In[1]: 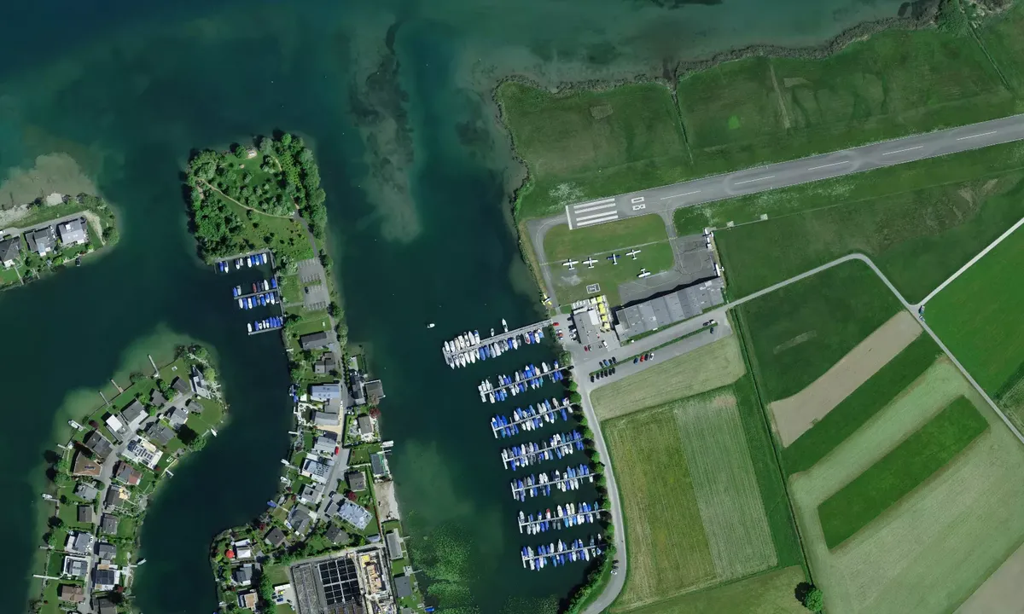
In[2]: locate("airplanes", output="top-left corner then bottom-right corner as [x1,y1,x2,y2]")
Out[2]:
[607,253,621,265]
[563,259,578,271]
[704,228,714,240]
[707,239,716,251]
[583,257,598,269]
[626,249,641,261]
[638,267,651,277]
[715,263,725,277]
[541,295,552,305]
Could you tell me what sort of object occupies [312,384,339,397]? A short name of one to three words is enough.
house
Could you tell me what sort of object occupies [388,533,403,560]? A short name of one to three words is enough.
building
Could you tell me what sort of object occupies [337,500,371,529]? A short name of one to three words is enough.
house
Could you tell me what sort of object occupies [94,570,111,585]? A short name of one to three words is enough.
solar panel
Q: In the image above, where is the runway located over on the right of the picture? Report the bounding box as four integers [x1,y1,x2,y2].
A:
[566,114,1024,229]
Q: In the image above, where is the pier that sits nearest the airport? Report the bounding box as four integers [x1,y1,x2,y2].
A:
[448,319,551,357]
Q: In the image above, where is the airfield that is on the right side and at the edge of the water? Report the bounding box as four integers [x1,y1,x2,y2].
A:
[526,114,1024,314]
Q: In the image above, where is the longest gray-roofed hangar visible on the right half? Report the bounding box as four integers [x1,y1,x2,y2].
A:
[616,278,728,338]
